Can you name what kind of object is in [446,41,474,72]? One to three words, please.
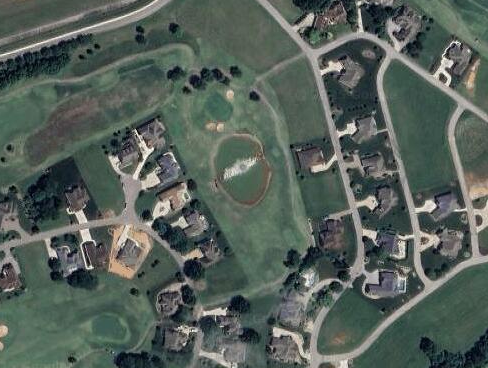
house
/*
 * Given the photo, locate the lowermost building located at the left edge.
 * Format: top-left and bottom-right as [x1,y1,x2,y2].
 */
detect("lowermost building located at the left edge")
[0,264,20,292]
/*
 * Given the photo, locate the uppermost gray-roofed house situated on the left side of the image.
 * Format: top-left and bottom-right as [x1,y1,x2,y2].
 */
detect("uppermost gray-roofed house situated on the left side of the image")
[134,117,168,150]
